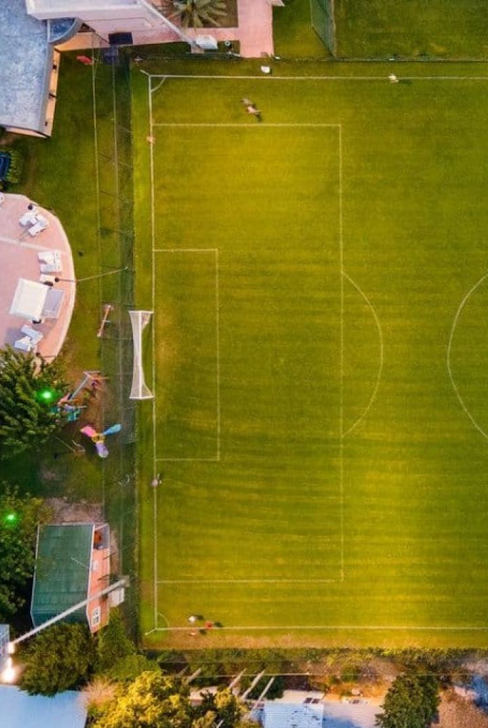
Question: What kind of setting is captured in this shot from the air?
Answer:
sports ground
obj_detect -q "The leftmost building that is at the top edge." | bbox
[0,0,99,137]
